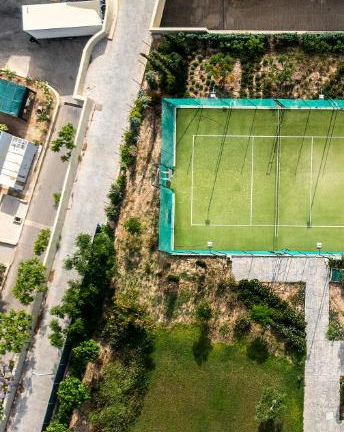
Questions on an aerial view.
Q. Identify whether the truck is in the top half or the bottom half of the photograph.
top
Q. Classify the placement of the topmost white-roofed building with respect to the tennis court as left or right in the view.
left of it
